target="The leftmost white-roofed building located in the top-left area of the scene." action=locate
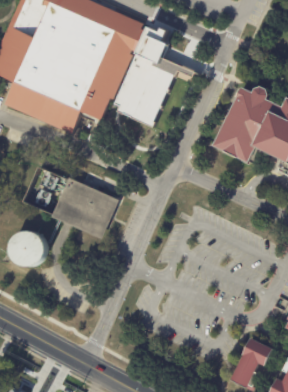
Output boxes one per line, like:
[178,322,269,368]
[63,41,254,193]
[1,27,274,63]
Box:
[0,0,144,133]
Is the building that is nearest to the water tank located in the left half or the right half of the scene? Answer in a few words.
left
